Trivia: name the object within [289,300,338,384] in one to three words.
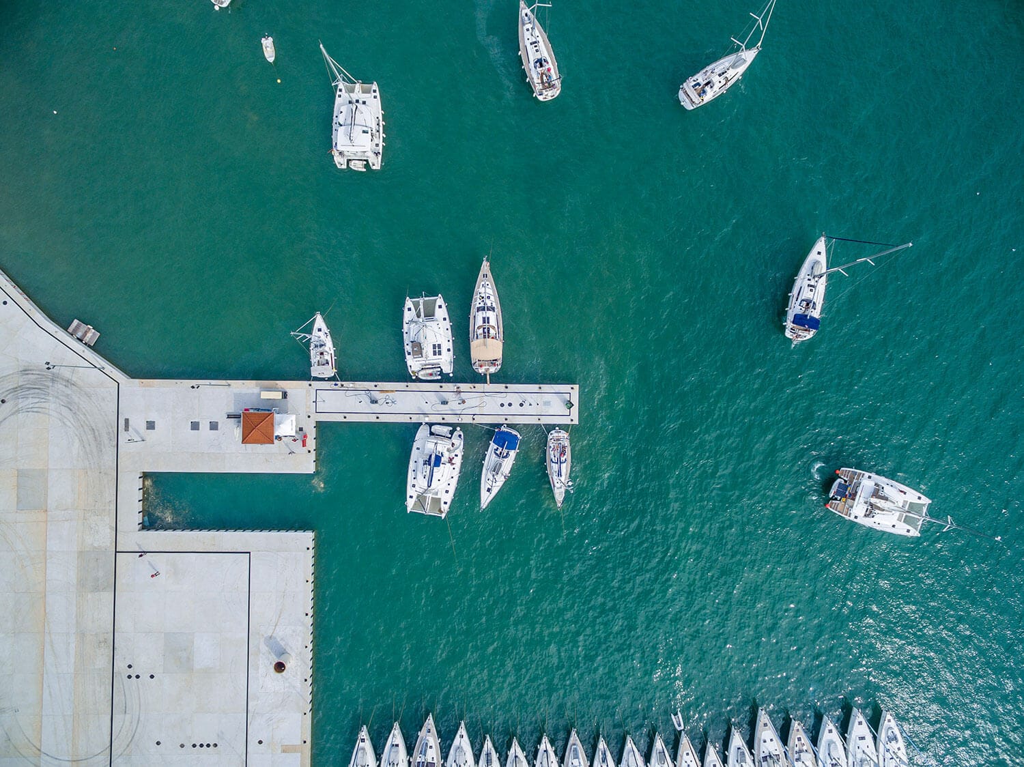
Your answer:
boat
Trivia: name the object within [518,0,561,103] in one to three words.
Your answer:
boat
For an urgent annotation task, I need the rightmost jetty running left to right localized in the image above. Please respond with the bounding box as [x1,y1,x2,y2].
[314,381,578,424]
